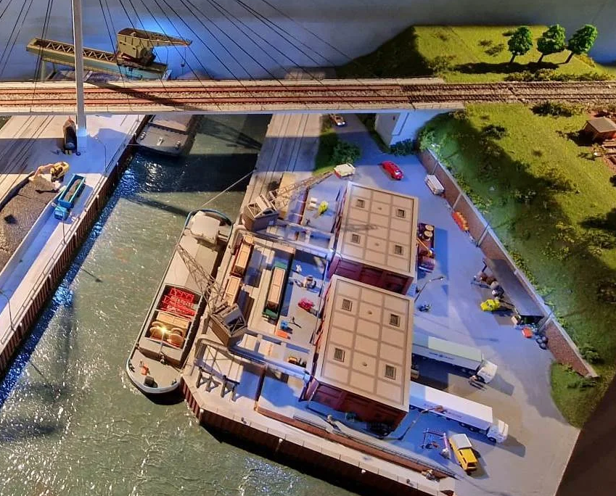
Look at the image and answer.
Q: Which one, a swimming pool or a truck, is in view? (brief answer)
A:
truck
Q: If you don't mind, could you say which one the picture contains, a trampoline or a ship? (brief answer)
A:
ship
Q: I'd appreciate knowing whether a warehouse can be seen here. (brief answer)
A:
Yes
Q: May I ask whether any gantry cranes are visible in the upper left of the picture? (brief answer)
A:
Yes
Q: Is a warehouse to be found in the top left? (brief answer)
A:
No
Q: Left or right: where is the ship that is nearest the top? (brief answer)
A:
left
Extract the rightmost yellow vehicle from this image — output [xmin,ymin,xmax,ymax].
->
[478,299,504,311]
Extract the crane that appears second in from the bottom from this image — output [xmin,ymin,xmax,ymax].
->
[232,167,337,259]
